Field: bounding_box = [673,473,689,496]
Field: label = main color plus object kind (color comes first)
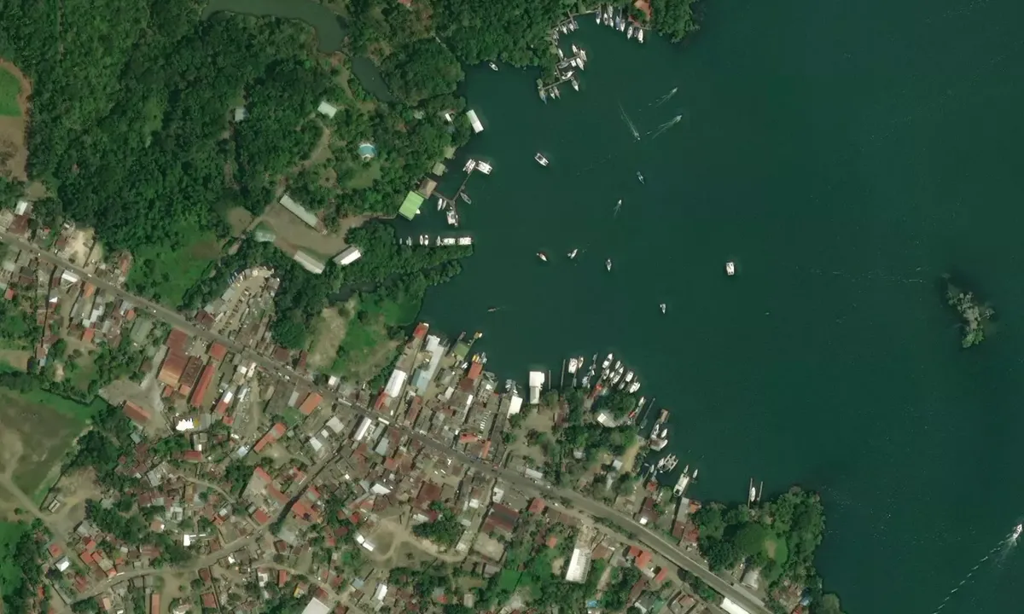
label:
white ship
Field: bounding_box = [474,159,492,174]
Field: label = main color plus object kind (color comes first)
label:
white boat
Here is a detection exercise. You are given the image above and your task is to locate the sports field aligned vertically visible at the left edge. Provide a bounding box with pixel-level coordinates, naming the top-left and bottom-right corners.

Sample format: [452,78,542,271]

[0,58,32,133]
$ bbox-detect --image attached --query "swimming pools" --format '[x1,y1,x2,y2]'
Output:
[358,143,376,159]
